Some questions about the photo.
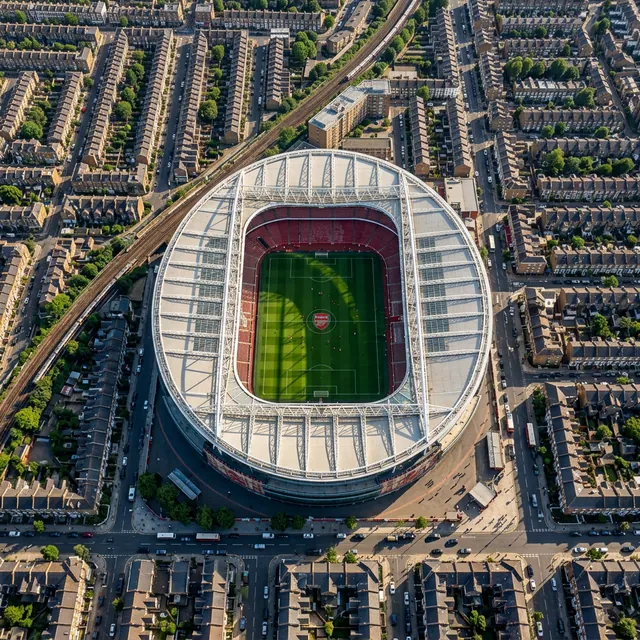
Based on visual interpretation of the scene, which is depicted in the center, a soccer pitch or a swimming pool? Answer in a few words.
soccer pitch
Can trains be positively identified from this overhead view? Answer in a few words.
Yes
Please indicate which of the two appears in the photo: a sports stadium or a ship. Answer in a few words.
sports stadium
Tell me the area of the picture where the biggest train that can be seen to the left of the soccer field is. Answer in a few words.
left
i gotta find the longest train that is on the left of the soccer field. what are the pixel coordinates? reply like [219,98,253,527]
[48,262,128,358]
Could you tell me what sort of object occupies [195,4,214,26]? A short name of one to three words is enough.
building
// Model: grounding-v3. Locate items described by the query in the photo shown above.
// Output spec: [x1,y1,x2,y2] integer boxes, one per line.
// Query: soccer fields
[249,247,392,402]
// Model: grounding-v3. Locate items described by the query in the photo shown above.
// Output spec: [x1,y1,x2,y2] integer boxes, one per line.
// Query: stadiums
[149,149,492,508]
